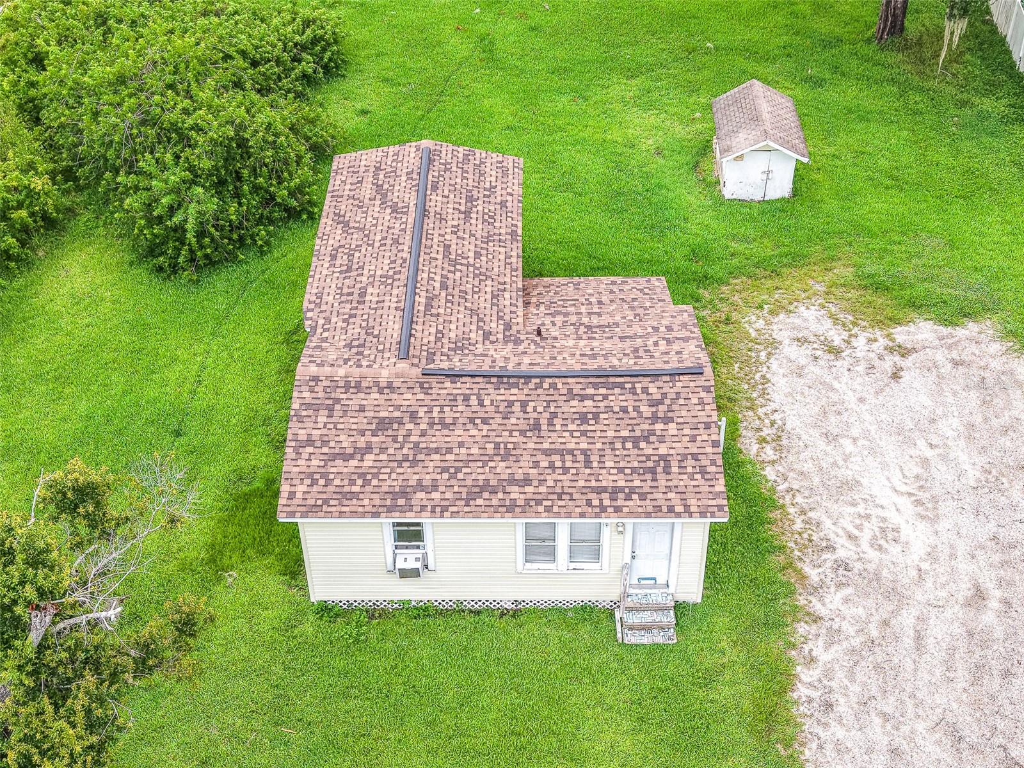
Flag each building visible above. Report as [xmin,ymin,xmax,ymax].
[712,81,810,199]
[278,140,728,610]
